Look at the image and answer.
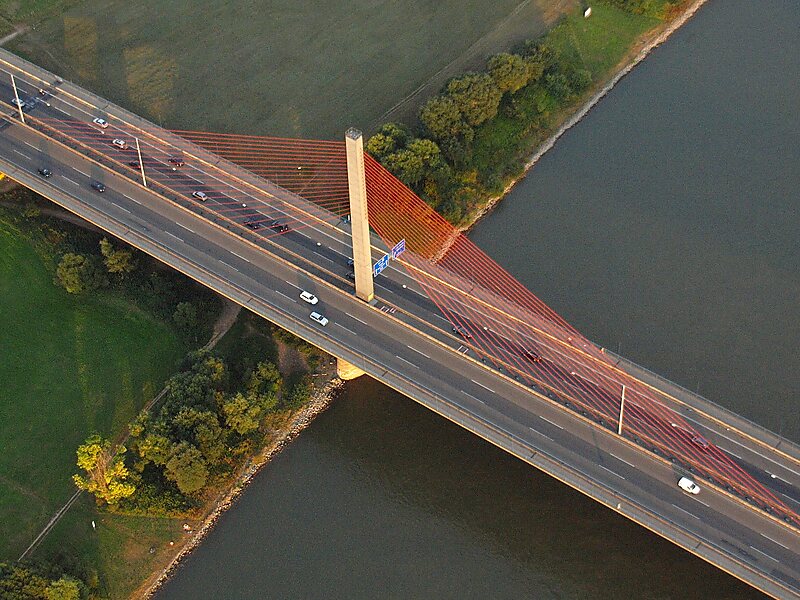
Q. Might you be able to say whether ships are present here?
No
